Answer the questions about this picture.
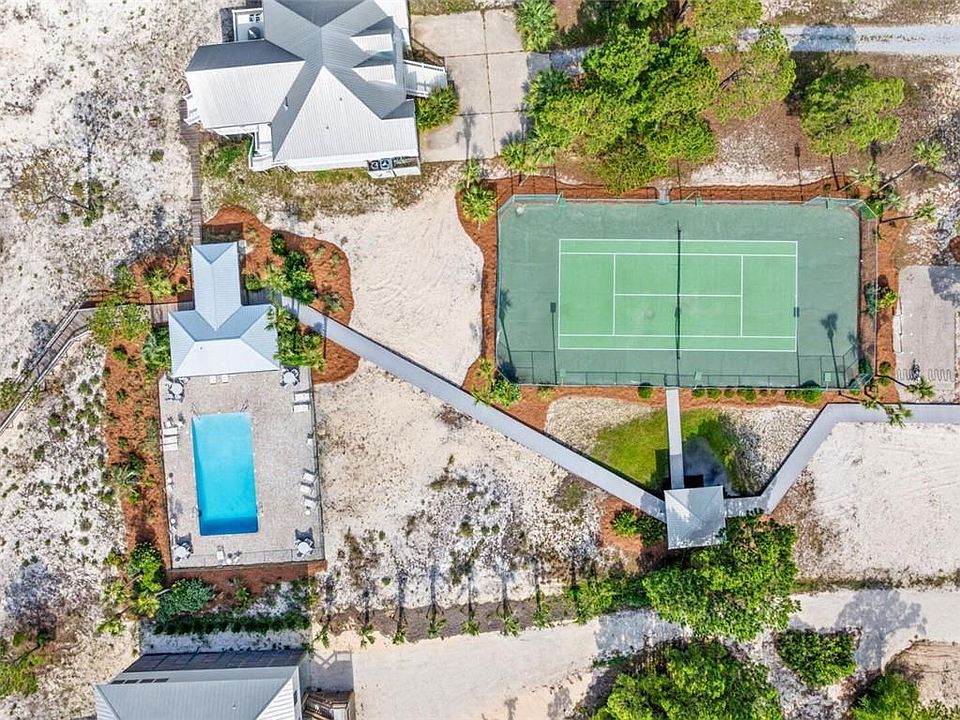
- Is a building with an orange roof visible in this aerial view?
No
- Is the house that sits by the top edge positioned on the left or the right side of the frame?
left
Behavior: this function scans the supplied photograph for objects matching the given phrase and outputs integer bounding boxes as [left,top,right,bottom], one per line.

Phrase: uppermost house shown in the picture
[180,0,442,174]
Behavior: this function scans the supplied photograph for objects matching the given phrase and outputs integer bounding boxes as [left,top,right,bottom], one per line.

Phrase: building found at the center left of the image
[168,242,283,377]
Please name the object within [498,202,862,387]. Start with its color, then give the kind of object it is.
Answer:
green tennis court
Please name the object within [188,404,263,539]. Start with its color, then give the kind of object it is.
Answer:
blue swimming pool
